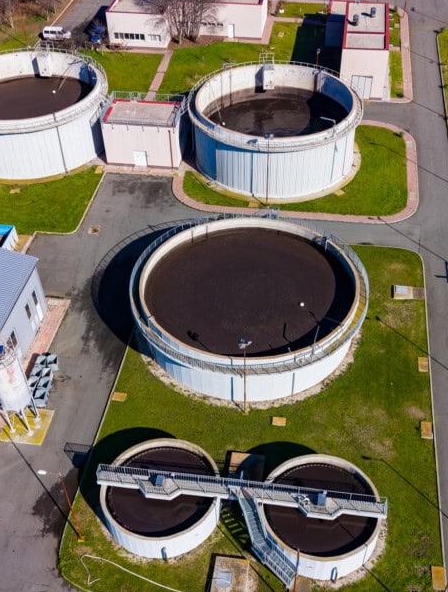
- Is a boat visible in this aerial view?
No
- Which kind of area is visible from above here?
industrial area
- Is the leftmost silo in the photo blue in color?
No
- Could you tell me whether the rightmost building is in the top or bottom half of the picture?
top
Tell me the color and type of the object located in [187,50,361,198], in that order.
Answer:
white storage tank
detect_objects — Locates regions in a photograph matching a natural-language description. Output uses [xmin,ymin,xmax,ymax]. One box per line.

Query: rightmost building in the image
[339,0,389,100]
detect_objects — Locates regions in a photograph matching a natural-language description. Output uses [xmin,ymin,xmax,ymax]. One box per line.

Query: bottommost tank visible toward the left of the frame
[99,438,221,561]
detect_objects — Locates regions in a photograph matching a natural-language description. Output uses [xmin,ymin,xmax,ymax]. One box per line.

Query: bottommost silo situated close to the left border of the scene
[0,336,41,437]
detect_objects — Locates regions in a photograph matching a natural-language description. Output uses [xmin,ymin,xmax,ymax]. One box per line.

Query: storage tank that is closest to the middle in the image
[130,204,370,401]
